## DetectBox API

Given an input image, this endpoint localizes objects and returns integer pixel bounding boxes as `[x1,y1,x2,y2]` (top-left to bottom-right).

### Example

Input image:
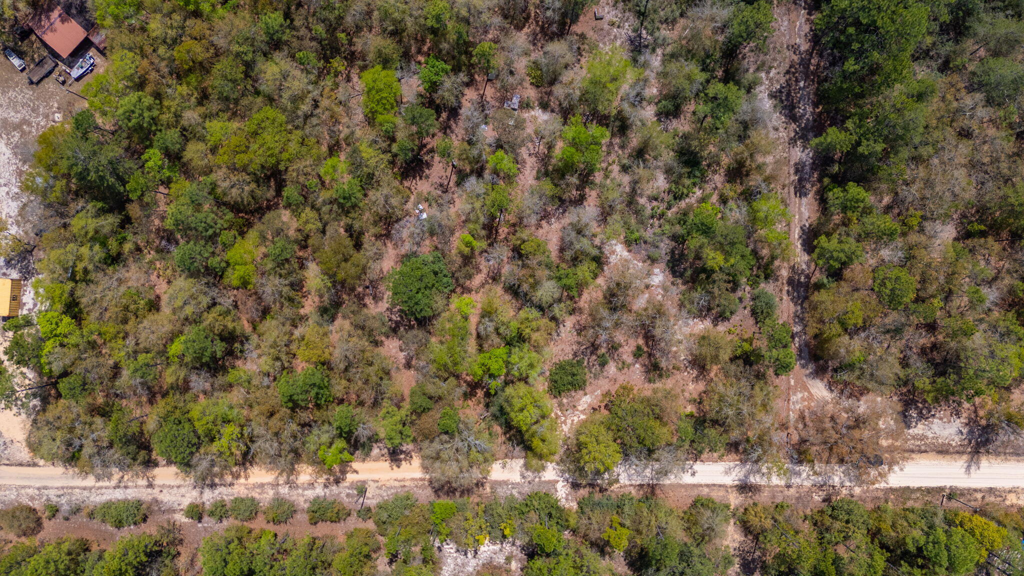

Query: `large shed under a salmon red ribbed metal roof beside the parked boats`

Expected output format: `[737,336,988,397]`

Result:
[29,0,89,61]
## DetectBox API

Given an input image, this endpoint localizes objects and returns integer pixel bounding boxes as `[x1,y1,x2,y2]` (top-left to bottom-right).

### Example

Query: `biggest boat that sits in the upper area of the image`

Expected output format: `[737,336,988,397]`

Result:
[69,56,97,78]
